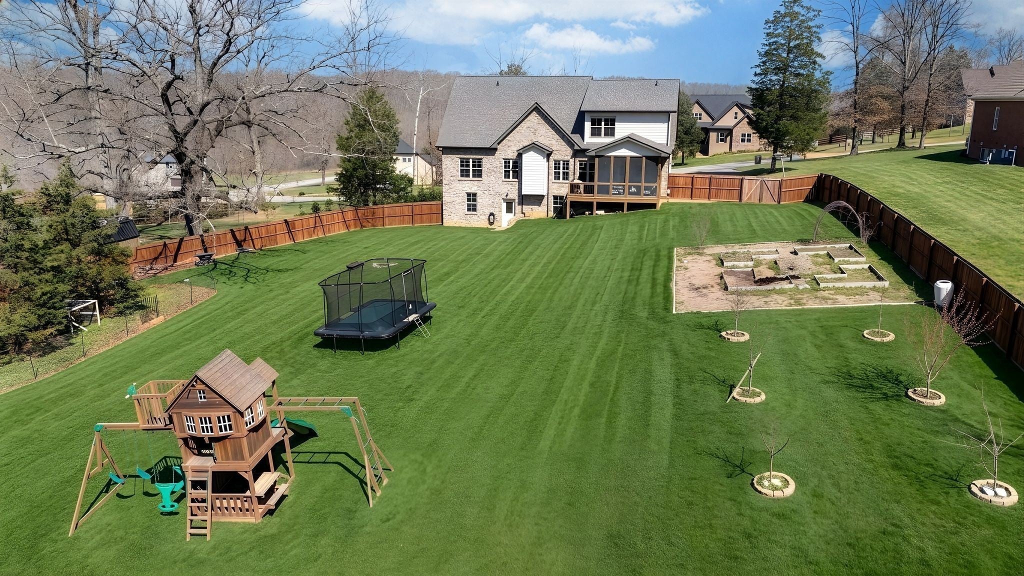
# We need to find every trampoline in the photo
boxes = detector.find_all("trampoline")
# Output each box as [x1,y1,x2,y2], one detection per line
[321,260,434,355]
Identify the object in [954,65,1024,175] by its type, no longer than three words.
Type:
house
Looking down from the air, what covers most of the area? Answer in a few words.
grass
